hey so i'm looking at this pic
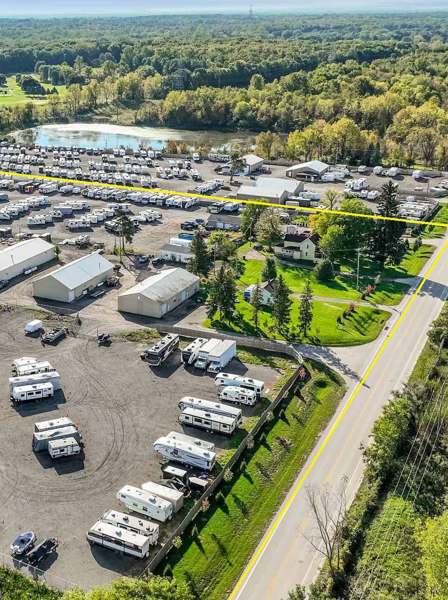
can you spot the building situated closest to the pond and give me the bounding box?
[237,155,265,173]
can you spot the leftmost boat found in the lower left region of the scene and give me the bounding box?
[9,524,38,550]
